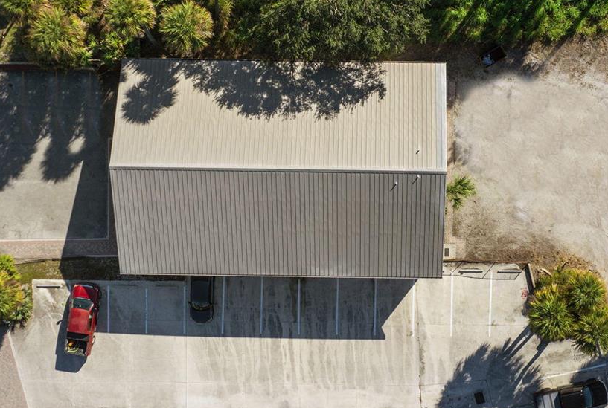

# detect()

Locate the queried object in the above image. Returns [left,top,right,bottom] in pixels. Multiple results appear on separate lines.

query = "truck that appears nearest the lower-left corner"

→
[63,282,101,358]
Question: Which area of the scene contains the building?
center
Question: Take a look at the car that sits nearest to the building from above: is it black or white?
black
